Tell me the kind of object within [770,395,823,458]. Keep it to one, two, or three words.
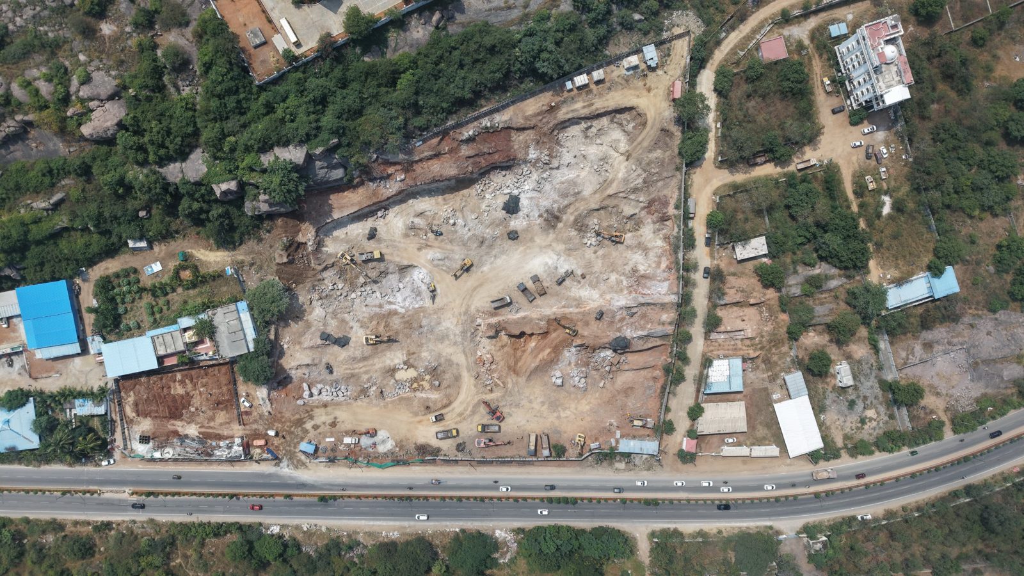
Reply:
building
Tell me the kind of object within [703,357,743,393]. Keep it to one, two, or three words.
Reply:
shed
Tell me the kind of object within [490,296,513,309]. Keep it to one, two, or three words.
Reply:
vehicle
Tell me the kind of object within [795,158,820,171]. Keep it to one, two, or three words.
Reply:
vehicle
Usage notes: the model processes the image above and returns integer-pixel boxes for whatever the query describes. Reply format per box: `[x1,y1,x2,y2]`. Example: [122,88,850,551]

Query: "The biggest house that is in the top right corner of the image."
[832,14,913,115]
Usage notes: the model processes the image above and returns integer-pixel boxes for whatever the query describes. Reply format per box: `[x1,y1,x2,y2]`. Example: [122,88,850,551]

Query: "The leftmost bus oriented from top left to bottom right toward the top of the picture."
[279,19,300,45]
